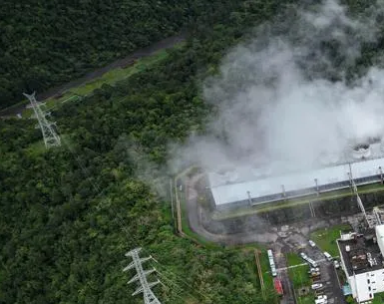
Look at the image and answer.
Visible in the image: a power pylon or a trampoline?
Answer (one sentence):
There is a power pylon in the scene.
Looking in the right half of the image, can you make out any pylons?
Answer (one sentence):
No, the scene shows no pylon in the right half of the image.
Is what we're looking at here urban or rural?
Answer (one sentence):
This place is rural.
